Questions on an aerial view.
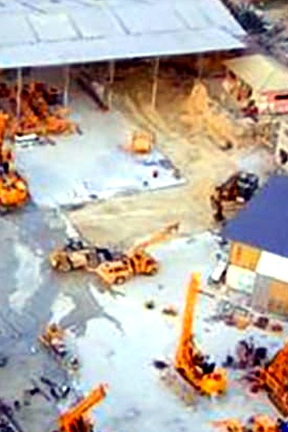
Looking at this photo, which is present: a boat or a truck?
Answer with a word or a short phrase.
truck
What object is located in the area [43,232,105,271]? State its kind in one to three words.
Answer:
truck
